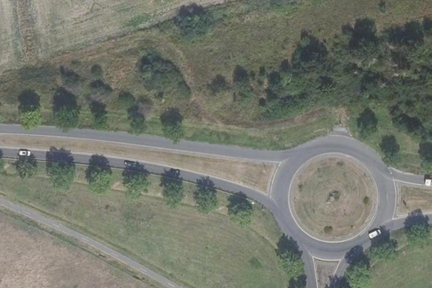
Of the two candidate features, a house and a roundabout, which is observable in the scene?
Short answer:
roundabout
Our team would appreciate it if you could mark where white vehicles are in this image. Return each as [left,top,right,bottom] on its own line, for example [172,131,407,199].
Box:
[368,228,382,238]
[424,177,432,185]
[18,150,30,156]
